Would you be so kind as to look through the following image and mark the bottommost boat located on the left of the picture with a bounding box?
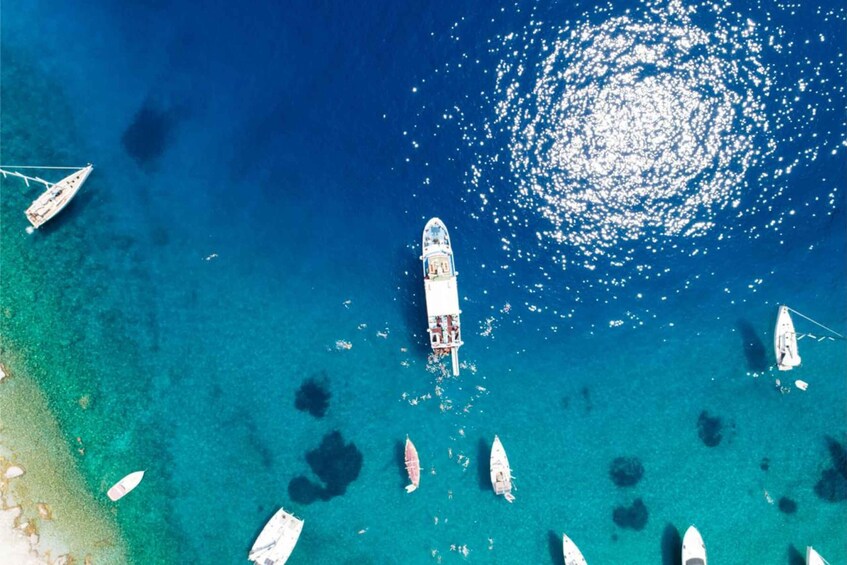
[246,505,304,565]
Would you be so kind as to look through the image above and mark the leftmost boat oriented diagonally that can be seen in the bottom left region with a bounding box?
[108,470,146,501]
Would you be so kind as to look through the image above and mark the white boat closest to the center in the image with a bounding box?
[419,218,464,378]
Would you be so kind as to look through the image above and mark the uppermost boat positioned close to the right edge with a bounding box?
[773,304,835,369]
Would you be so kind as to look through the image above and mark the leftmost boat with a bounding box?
[0,164,93,228]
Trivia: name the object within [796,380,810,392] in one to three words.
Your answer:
boat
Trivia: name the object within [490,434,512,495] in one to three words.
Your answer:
boat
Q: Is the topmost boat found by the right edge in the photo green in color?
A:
No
